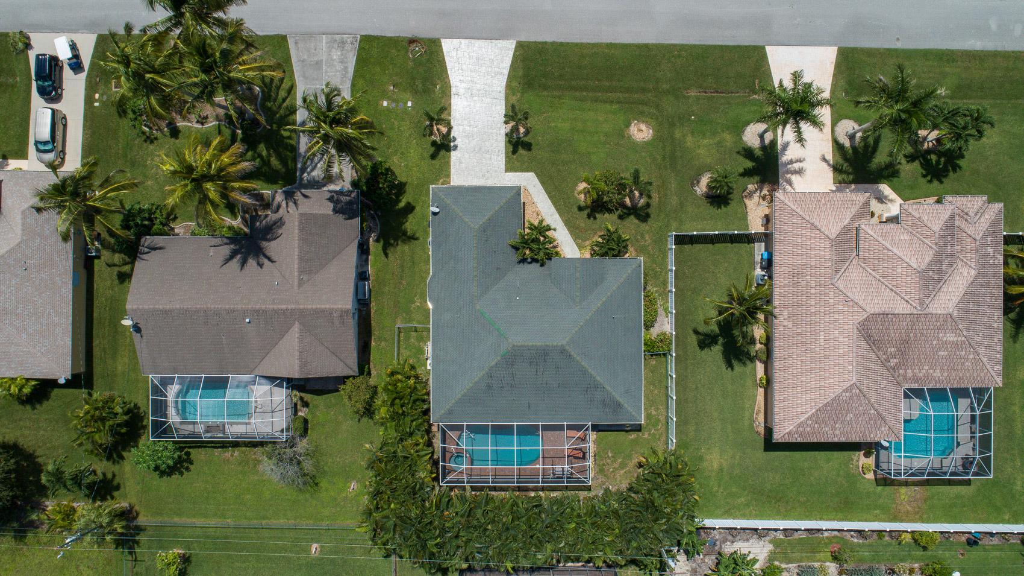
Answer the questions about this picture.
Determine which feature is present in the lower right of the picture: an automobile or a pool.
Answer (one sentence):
What appears in the lower right of the picture is a pool.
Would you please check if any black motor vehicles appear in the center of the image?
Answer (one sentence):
No, I see no black motor vehicle in the center of the image.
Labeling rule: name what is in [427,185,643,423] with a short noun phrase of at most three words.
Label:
house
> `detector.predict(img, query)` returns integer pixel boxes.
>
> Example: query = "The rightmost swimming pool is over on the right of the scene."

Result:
[904,390,960,460]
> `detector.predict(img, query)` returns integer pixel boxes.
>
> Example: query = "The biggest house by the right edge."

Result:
[766,191,1004,443]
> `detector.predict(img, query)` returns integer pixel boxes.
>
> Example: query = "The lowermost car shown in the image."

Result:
[32,106,67,167]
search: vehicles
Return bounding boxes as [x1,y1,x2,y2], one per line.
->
[57,38,89,72]
[34,51,65,101]
[32,106,67,167]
